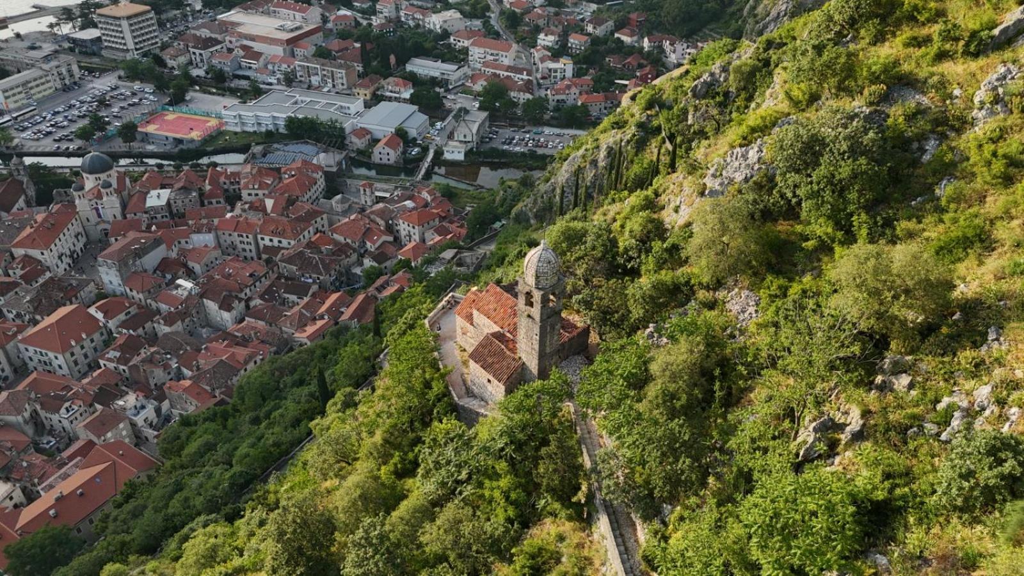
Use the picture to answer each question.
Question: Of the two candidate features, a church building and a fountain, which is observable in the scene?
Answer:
church building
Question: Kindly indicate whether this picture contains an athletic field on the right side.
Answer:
No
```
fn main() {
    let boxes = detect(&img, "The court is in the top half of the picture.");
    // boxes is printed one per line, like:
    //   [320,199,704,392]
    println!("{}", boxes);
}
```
[135,107,231,148]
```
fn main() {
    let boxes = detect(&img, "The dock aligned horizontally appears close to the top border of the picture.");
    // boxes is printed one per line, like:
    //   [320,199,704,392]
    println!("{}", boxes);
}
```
[0,2,90,28]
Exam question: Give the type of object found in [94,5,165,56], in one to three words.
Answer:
building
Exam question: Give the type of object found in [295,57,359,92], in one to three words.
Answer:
building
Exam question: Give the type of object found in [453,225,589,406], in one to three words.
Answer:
church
